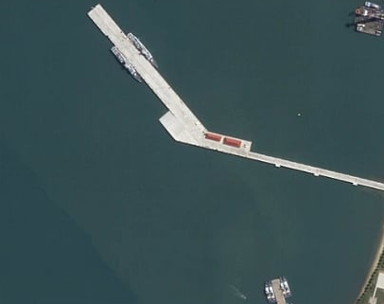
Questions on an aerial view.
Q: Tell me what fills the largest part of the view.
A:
water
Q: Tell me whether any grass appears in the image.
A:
No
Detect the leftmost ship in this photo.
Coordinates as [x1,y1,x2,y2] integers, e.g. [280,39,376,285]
[110,47,141,82]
